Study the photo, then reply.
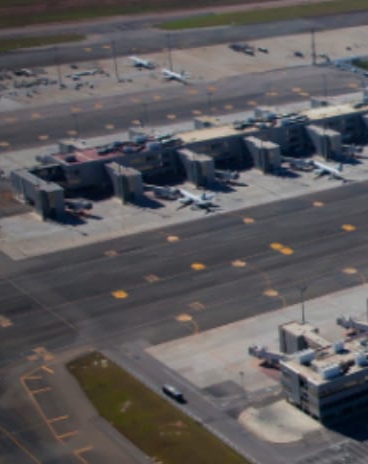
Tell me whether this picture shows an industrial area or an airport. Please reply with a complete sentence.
What you see here is an airport.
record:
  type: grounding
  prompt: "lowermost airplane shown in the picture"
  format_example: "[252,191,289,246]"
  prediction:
[170,187,220,204]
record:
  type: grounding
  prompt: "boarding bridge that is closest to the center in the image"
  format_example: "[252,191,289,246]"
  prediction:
[142,184,183,200]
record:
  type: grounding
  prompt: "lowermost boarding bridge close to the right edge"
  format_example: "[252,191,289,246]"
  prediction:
[333,313,368,333]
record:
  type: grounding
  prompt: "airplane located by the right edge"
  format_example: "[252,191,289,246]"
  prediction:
[306,161,350,176]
